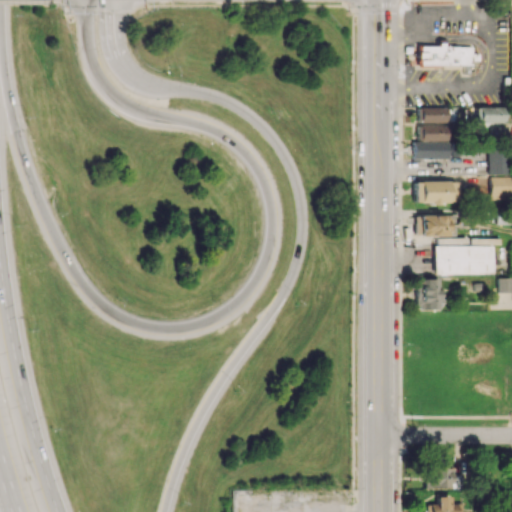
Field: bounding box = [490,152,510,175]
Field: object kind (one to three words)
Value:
building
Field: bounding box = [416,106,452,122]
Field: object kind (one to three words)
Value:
house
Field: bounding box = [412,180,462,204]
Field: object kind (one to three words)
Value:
house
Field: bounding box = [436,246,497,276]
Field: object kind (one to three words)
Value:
building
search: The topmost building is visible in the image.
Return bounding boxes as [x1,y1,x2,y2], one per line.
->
[418,40,484,68]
